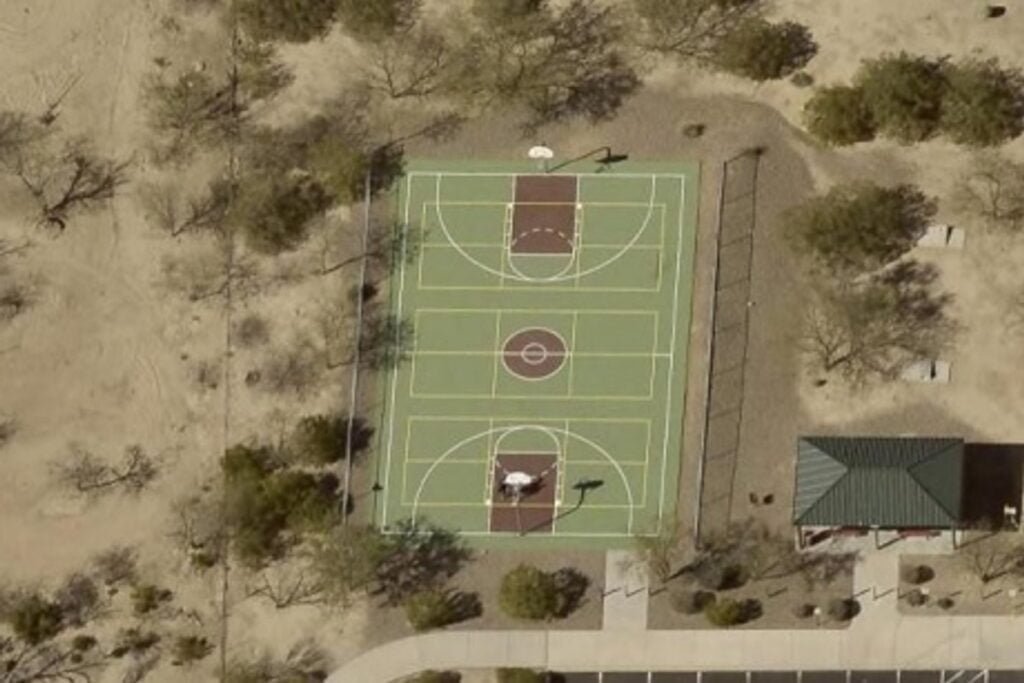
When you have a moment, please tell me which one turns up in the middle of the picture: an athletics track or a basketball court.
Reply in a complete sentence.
What appears in the middle of the picture is a basketball court.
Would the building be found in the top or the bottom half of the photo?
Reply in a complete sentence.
It is in the bottom half that the building appears.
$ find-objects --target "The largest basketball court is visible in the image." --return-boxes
[366,159,701,552]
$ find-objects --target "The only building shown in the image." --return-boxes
[794,436,965,556]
